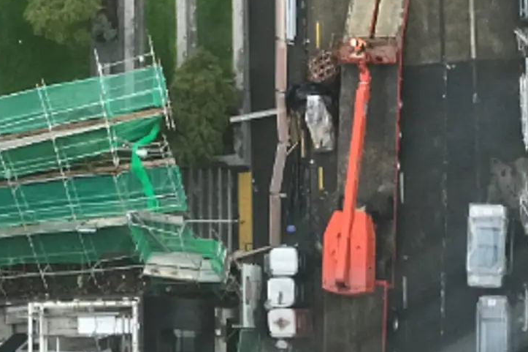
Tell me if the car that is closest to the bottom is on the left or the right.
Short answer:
right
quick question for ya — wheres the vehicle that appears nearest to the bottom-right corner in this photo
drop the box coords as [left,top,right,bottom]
[471,296,515,352]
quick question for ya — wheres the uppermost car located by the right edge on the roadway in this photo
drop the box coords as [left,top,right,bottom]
[464,206,512,287]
